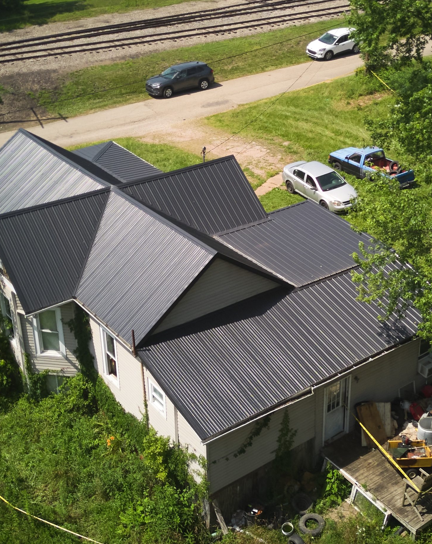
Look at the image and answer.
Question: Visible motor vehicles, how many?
four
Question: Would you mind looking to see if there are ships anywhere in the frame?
No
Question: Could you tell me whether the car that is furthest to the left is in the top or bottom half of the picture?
top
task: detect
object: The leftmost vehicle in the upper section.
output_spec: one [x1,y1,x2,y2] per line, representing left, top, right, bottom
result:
[142,55,215,96]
